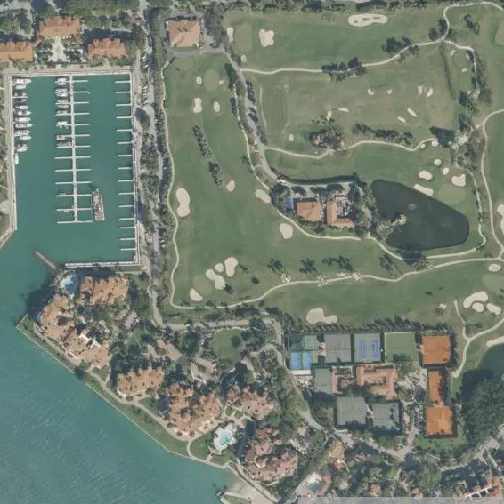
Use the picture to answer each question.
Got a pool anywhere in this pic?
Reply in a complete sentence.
Yes, the photo shows a pool.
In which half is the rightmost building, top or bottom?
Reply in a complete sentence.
You can find the rightmost building in the bottom half.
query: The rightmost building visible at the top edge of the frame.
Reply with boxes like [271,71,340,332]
[167,19,201,46]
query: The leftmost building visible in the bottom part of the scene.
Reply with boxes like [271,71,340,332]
[37,290,76,343]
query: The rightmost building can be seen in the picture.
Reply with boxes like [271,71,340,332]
[454,471,504,504]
